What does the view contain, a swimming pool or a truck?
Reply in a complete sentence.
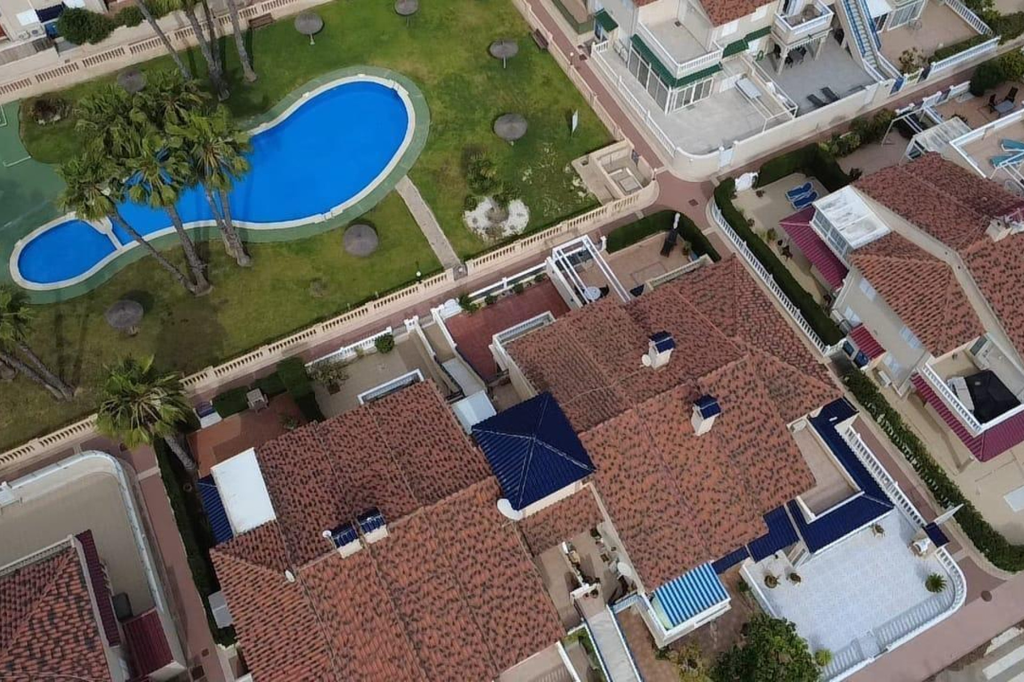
The image shows a swimming pool.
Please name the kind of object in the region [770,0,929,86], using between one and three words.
house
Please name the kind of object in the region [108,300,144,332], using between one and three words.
umbrella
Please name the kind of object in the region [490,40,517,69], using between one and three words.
umbrella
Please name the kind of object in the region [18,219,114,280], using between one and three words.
swimming pool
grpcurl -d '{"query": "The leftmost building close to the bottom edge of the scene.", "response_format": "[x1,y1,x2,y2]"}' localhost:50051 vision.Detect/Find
[0,523,187,682]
